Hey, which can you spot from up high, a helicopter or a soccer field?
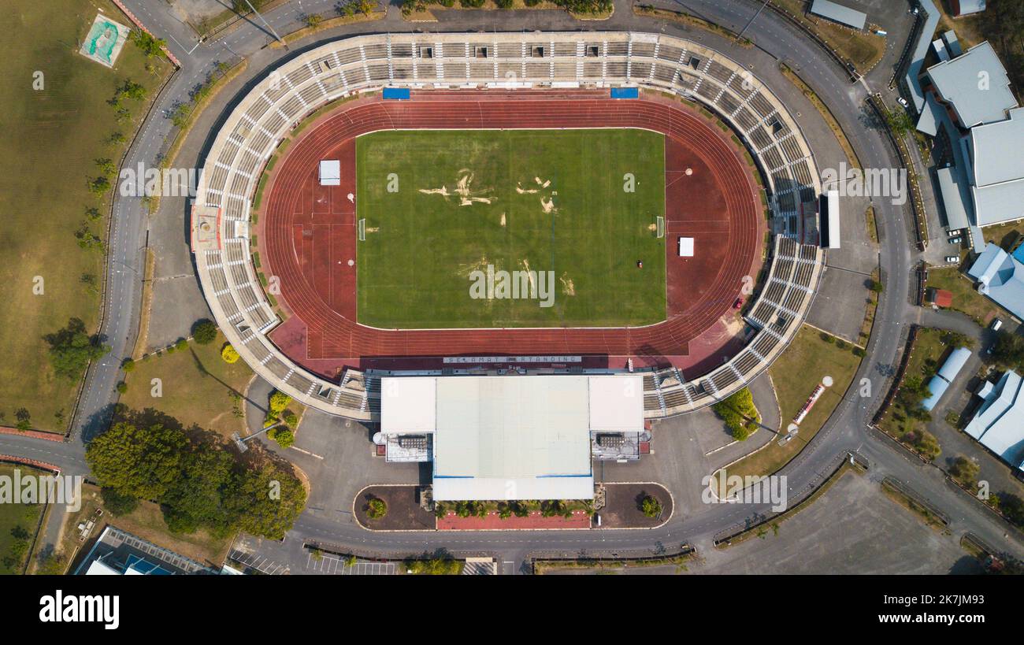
soccer field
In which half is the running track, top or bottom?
top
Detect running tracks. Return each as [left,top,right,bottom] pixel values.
[265,91,757,359]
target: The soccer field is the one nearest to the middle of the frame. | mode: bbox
[356,129,668,328]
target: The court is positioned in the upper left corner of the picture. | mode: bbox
[79,14,130,68]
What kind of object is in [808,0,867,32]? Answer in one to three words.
shed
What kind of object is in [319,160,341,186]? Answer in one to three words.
tent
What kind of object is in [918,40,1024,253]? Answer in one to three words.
building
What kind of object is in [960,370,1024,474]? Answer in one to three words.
building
